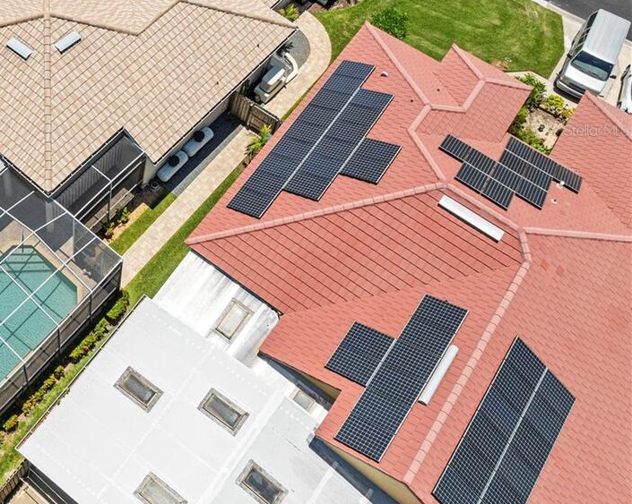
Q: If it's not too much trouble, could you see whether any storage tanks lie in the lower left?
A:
No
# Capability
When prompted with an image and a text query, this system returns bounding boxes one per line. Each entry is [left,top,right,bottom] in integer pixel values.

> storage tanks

[159,155,193,188]
[183,130,215,164]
